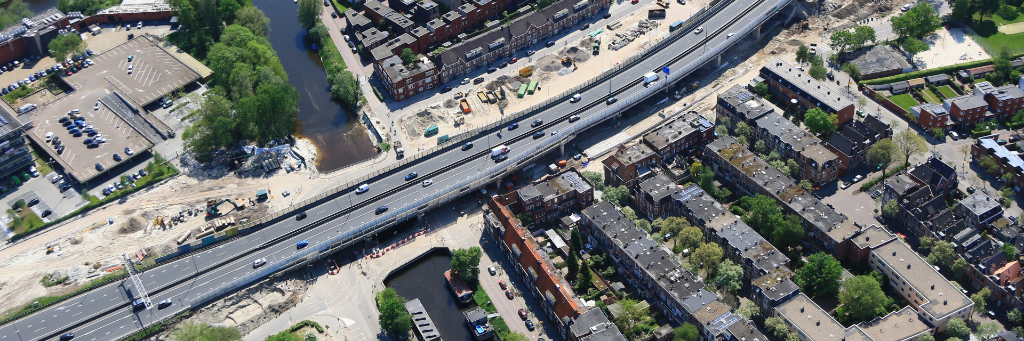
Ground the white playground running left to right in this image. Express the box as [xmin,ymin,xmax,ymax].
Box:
[915,27,989,65]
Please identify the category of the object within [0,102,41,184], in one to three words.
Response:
building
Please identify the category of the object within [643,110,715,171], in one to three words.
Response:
building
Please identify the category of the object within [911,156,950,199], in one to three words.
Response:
house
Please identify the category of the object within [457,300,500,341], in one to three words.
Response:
boat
